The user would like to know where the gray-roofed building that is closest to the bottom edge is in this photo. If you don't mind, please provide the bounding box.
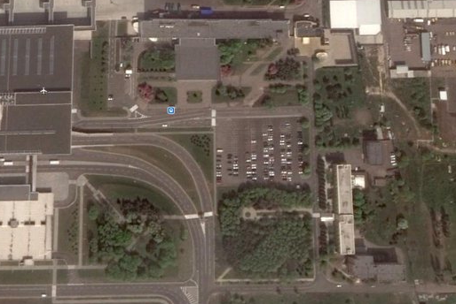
[346,239,405,283]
